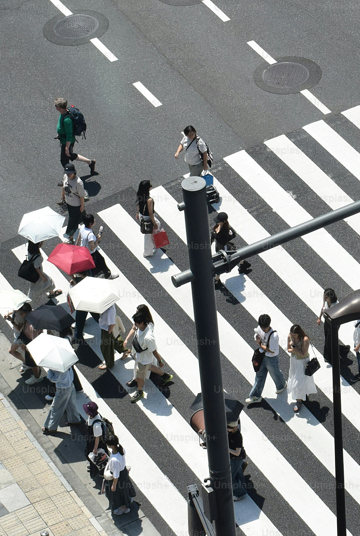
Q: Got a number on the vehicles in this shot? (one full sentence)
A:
There are no vehicles in the image.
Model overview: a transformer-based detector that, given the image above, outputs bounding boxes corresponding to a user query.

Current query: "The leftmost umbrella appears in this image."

[0,284,34,326]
